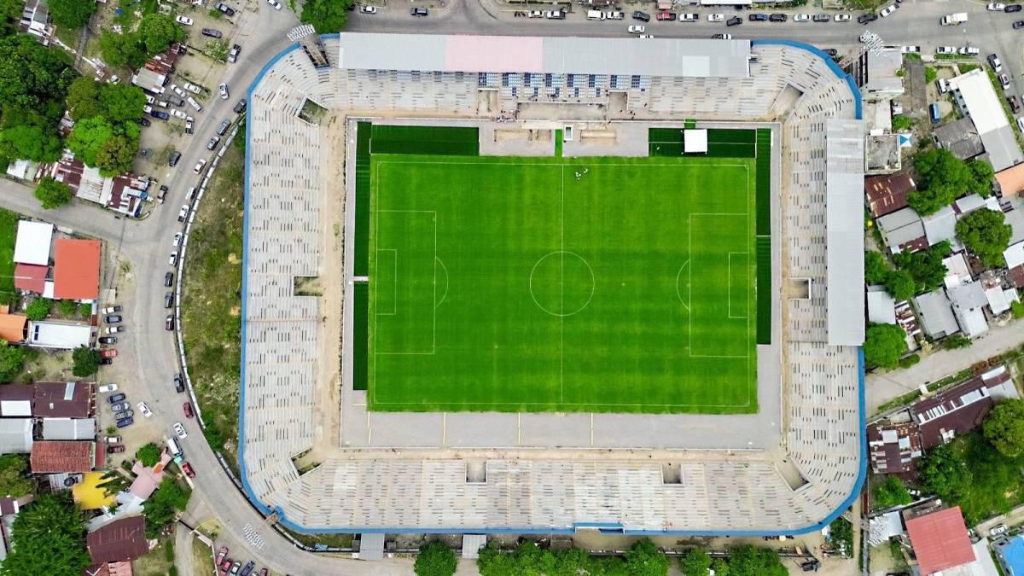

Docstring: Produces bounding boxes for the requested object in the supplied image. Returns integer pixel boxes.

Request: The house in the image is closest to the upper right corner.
[949,72,1008,135]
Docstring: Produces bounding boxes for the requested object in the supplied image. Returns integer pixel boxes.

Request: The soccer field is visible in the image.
[367,154,758,414]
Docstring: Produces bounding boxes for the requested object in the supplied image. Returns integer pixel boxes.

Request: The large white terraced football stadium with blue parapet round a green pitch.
[238,31,867,535]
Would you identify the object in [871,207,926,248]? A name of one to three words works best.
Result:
house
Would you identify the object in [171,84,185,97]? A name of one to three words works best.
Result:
vehicle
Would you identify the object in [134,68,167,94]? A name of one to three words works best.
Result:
house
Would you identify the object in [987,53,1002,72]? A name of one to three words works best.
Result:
vehicle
